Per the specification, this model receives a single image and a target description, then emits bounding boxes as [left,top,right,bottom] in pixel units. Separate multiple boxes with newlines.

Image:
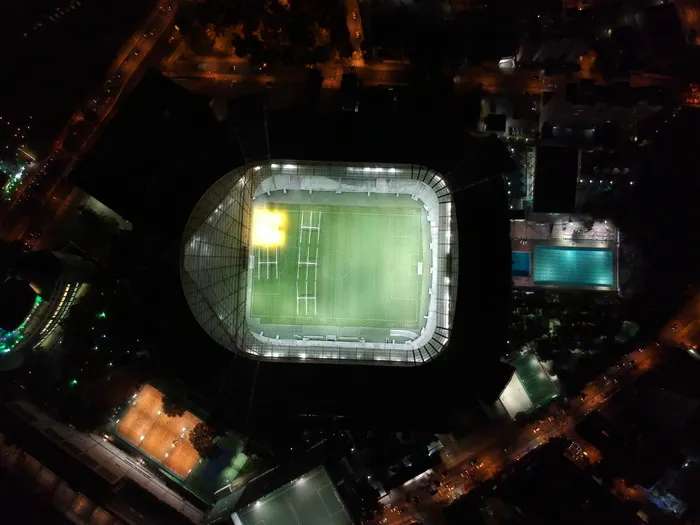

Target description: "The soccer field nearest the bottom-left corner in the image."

[237,463,353,525]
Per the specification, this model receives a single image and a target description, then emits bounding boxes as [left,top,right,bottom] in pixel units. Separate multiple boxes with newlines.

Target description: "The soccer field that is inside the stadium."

[248,202,422,327]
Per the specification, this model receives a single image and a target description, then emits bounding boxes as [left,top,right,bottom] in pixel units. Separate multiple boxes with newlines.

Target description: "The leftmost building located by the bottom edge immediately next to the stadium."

[5,396,206,524]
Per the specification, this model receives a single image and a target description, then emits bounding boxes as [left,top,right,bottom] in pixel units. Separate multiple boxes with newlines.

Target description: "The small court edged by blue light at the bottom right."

[642,484,686,518]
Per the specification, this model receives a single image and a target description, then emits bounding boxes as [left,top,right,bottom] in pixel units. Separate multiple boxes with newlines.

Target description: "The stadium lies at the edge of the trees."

[142,107,516,411]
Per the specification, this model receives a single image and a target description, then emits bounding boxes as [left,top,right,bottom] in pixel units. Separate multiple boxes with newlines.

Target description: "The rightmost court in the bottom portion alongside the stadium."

[516,354,560,407]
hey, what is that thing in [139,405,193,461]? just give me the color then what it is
orange tennis court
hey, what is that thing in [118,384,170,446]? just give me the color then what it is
orange tennis court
